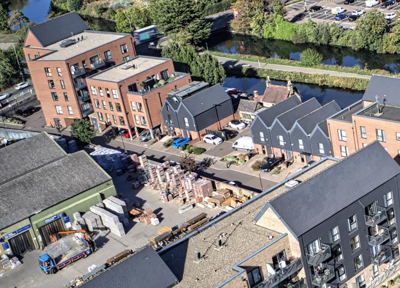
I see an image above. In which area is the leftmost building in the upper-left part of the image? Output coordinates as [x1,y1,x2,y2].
[22,11,137,124]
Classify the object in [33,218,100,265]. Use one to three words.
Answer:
truck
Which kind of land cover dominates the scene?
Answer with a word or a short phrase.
buildings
